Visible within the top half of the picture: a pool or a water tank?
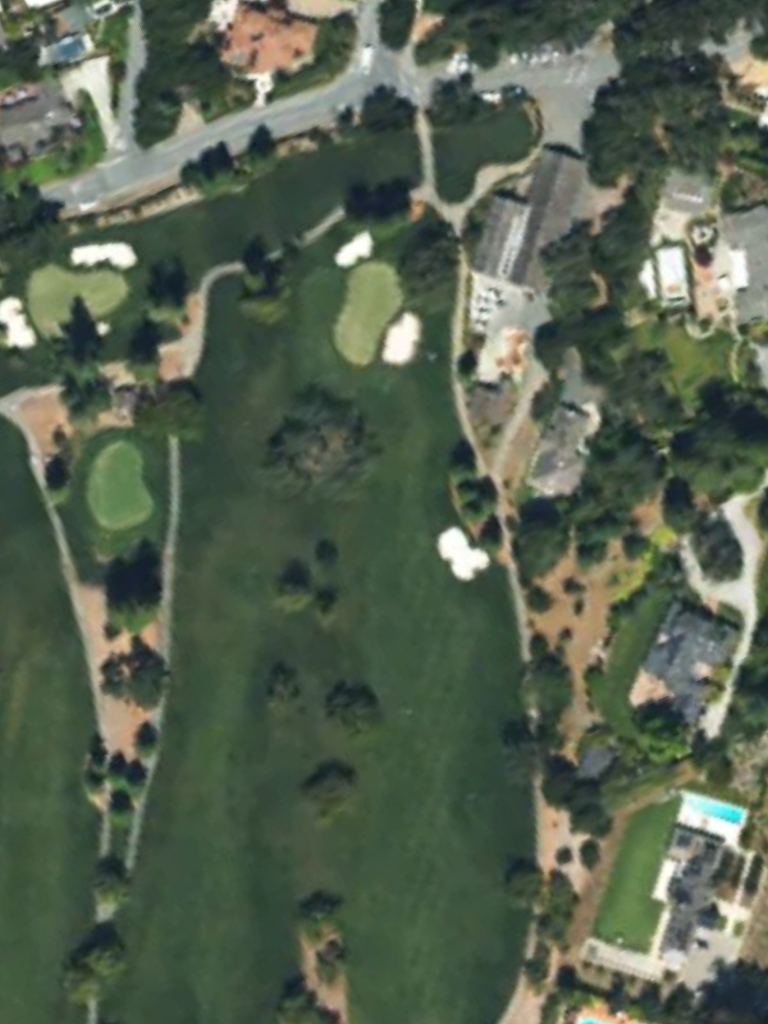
pool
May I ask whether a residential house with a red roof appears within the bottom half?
No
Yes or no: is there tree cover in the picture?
Yes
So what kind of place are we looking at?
golf course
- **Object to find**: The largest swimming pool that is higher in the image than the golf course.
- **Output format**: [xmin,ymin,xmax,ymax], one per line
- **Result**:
[43,34,93,65]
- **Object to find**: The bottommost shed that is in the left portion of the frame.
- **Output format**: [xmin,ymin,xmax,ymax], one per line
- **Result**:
[114,386,133,418]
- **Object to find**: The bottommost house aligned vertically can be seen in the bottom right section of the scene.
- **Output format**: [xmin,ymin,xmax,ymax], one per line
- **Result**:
[660,819,729,964]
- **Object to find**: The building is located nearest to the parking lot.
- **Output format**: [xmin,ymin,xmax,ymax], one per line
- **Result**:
[511,147,584,291]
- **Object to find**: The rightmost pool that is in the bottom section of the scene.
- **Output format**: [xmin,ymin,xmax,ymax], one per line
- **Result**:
[676,791,747,846]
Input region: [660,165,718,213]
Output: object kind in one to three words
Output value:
building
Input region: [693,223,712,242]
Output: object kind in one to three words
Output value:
fountain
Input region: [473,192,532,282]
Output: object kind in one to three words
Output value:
barn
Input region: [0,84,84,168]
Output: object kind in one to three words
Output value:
house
